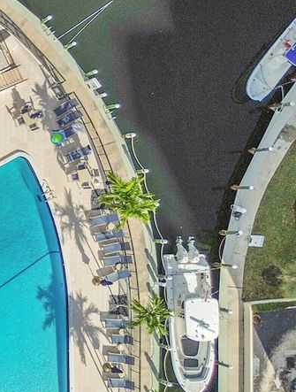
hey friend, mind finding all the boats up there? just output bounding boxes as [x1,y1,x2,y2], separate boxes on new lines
[249,11,296,102]
[160,237,218,392]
